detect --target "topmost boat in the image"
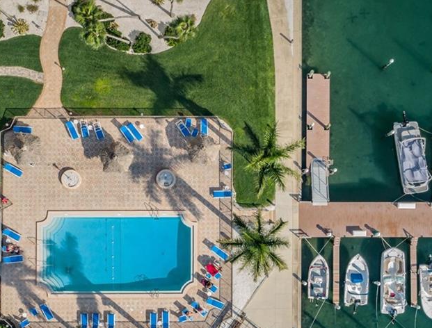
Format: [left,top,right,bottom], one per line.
[394,113,432,193]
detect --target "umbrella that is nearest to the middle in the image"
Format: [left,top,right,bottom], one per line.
[186,130,220,169]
